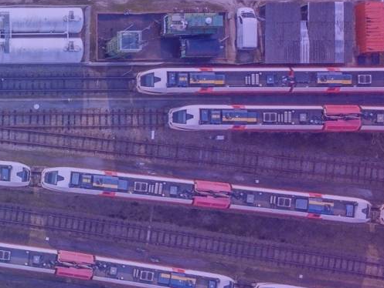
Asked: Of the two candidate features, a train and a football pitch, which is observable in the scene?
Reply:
train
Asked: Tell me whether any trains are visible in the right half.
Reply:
Yes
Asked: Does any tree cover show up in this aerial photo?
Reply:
No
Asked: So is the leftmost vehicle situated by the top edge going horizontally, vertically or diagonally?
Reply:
vertically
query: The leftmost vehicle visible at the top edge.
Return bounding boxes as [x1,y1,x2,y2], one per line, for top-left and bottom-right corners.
[233,6,256,54]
